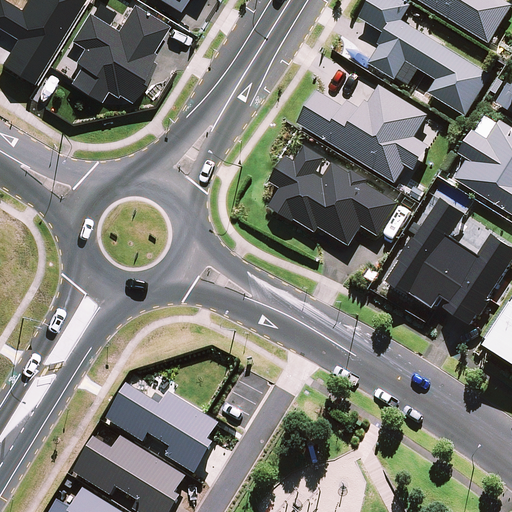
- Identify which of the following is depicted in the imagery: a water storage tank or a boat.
boat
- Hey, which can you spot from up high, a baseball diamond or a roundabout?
roundabout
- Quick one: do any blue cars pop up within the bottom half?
Yes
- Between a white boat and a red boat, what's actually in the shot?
white boat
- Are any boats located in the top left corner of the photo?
Yes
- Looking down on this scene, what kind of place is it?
residential area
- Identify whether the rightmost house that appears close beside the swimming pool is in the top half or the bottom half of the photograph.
top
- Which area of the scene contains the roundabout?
left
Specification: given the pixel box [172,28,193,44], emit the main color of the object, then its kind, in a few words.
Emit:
white vehicle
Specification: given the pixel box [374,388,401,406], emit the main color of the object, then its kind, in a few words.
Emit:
white vehicle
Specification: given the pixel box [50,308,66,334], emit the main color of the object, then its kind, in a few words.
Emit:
white car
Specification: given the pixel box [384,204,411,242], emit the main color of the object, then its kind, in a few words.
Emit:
white camper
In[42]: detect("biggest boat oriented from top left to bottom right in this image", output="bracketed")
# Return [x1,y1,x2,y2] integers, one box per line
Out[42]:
[343,44,370,67]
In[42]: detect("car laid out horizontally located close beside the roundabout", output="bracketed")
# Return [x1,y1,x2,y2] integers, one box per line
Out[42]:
[124,280,149,292]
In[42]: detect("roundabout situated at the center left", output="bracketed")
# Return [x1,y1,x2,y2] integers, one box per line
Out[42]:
[97,196,172,272]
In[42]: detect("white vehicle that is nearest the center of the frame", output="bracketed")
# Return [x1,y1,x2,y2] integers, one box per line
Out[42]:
[199,160,214,184]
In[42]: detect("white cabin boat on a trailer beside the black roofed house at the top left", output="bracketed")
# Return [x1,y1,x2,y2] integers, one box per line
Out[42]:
[42,74,60,106]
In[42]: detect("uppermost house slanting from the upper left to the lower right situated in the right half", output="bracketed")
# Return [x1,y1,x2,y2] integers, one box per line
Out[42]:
[358,0,484,114]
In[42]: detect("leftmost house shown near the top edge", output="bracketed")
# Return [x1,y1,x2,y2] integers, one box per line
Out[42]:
[0,0,88,85]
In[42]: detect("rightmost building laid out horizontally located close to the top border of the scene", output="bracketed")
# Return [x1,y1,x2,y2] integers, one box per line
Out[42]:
[416,0,511,43]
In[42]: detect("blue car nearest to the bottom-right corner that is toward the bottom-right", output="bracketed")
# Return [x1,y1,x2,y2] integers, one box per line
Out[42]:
[410,372,432,389]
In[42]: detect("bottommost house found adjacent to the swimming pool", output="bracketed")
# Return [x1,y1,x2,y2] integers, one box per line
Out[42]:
[386,198,512,321]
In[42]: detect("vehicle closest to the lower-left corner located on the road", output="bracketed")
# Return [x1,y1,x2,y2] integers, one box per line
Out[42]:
[24,353,41,378]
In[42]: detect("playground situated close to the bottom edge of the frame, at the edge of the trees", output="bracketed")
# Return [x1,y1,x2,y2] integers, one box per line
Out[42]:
[270,450,367,512]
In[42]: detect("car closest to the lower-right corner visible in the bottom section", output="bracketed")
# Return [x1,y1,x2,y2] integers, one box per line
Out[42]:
[405,406,424,422]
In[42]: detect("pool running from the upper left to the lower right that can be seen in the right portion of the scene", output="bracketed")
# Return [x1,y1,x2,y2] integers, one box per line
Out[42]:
[435,176,474,210]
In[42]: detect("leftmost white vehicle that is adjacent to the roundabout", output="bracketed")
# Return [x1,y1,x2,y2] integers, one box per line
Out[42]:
[80,218,94,240]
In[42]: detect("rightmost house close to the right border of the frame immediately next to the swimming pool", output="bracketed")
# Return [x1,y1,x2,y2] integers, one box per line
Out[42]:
[454,112,512,220]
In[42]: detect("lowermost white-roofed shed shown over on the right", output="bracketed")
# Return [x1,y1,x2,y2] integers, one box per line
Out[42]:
[482,300,512,364]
